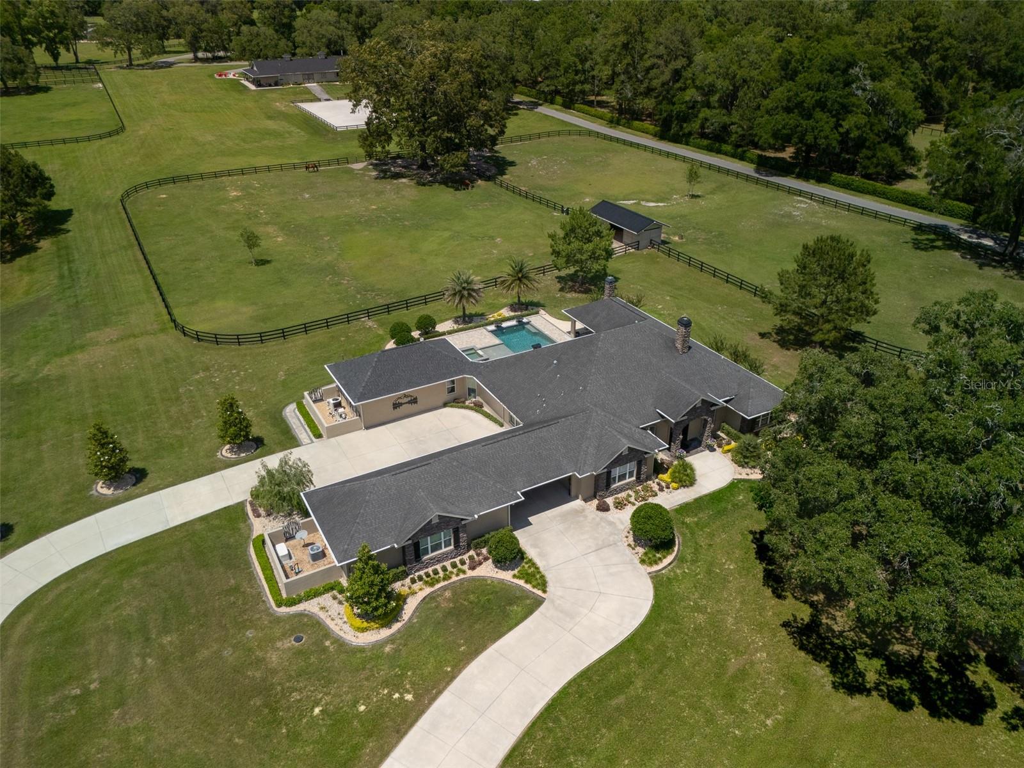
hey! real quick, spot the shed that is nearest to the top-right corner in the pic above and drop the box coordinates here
[597,204,671,250]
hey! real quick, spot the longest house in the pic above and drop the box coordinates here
[299,274,799,583]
